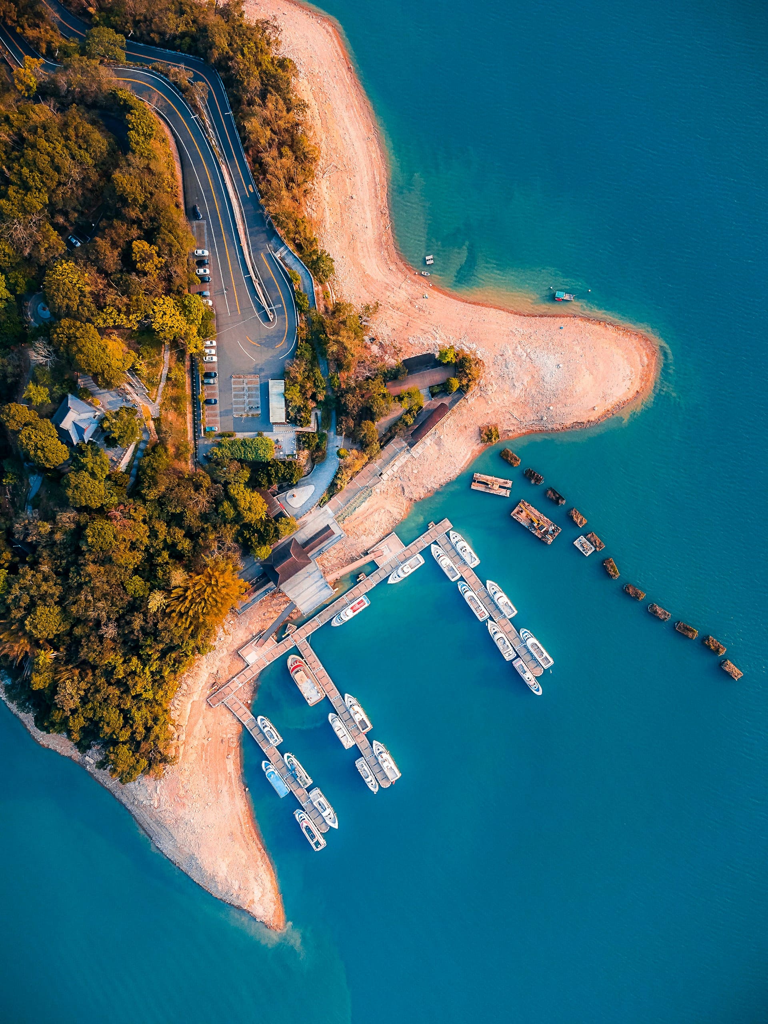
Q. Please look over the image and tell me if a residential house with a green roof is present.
No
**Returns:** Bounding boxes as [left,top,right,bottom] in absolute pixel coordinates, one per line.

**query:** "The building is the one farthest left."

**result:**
[51,394,102,445]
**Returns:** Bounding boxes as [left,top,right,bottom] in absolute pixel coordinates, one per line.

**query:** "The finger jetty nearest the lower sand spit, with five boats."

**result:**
[225,696,328,830]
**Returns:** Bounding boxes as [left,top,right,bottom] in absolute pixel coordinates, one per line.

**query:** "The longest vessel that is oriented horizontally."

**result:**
[471,473,512,497]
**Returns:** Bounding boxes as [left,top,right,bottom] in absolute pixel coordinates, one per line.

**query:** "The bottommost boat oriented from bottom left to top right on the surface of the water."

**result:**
[332,596,370,626]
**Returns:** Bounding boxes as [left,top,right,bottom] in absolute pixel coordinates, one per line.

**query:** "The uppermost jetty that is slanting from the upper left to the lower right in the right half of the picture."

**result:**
[437,534,541,675]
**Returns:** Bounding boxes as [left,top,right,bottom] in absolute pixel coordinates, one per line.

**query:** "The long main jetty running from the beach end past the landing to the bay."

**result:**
[207,518,453,707]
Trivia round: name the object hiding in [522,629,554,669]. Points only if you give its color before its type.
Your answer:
white boat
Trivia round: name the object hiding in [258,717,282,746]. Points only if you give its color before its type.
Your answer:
white boat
